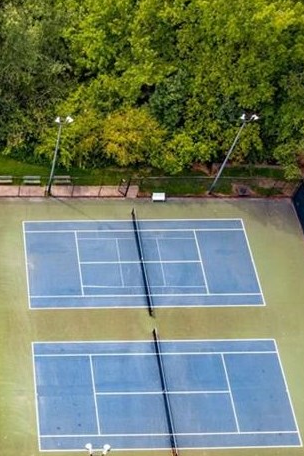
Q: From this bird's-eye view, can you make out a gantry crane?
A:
No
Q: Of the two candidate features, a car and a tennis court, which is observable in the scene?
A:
tennis court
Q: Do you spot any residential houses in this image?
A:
No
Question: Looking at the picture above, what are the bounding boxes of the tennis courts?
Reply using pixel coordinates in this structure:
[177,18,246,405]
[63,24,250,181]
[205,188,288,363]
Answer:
[22,218,264,308]
[32,340,301,450]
